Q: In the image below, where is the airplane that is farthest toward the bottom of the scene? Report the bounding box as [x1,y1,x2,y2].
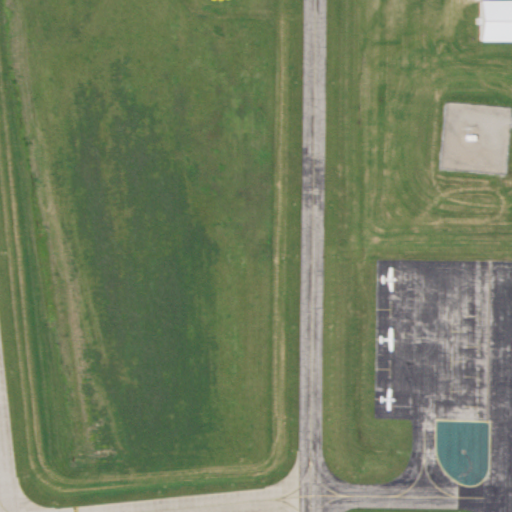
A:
[380,388,396,412]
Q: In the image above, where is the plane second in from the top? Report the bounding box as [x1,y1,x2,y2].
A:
[379,327,398,354]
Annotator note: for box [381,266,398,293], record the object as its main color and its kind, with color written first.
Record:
white airplane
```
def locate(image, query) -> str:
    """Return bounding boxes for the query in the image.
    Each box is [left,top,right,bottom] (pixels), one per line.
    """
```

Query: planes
[381,266,398,293]
[380,388,396,412]
[379,327,398,354]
